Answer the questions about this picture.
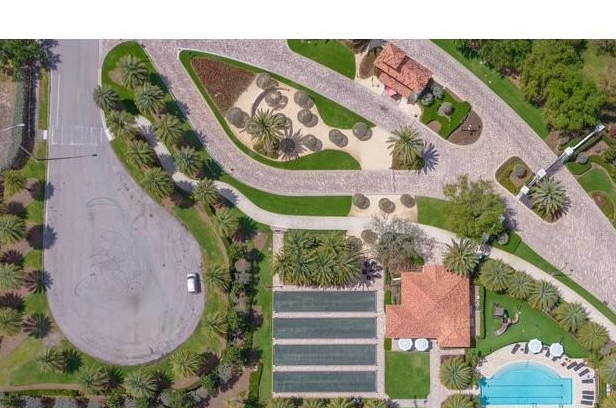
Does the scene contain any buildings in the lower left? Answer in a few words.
No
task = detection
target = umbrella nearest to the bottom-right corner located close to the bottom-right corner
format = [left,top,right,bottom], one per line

[550,343,563,357]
